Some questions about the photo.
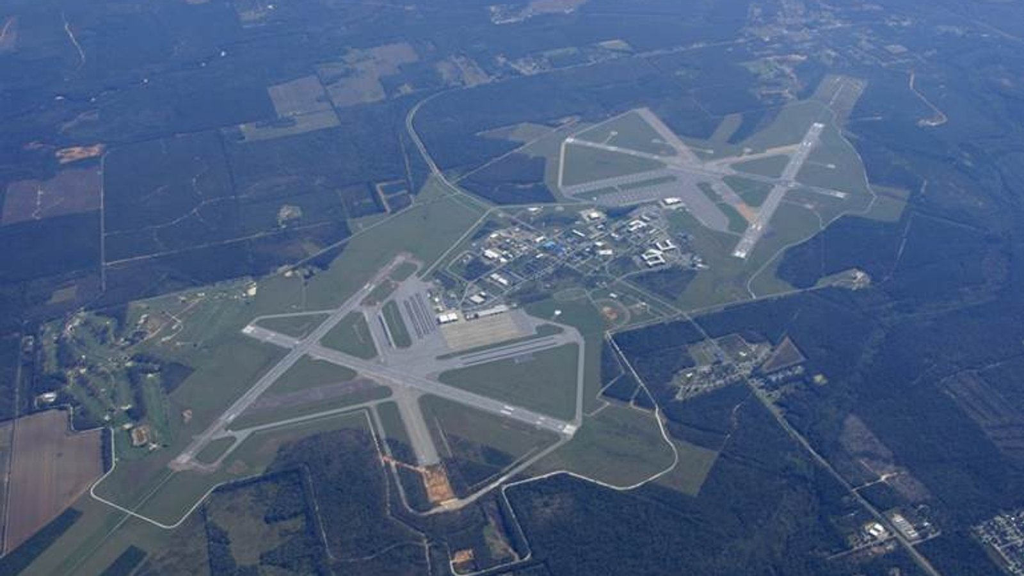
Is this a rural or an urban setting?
rural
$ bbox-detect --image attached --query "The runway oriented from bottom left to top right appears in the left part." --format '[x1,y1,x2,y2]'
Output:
[176,257,413,460]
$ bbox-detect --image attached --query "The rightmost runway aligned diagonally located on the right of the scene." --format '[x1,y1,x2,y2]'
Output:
[731,124,825,259]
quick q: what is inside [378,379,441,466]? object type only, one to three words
runway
